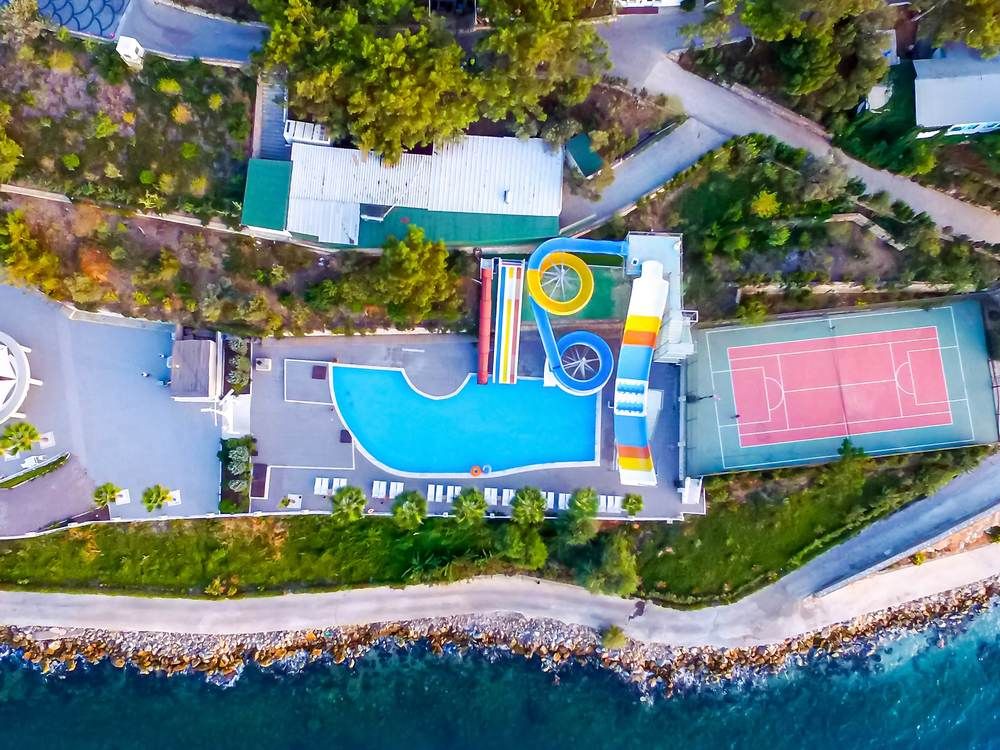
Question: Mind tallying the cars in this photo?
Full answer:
I count no cars.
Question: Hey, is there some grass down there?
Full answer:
Yes, some grass is visible.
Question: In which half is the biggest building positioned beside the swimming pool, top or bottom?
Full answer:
The biggest building positioned beside the swimming pool sits in the top half of the picture.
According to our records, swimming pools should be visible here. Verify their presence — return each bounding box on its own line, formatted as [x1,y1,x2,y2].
[327,360,613,479]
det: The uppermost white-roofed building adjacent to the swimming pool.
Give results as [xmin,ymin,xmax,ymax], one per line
[287,138,562,250]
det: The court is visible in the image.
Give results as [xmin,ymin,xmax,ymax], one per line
[690,298,999,476]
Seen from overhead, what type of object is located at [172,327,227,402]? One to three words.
shed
